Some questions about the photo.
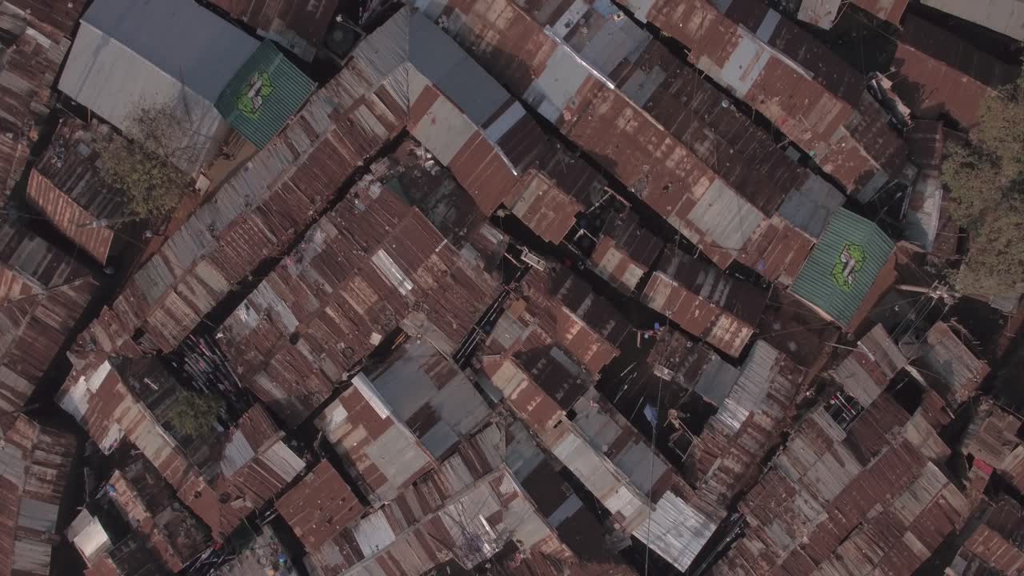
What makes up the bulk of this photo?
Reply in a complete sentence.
What you mostly see from above here is buildings.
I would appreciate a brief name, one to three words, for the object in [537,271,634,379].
house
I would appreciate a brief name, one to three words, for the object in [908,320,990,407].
shed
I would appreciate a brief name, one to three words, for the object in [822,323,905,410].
shed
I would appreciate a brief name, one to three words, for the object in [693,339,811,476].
house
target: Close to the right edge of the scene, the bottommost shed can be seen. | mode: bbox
[931,543,992,576]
